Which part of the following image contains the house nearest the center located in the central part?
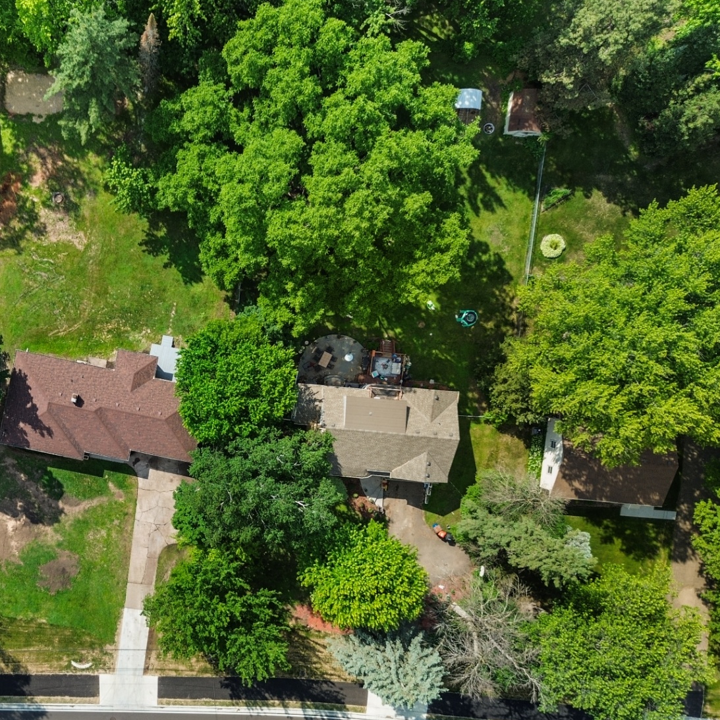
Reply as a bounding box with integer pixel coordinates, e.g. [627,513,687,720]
[291,383,460,484]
